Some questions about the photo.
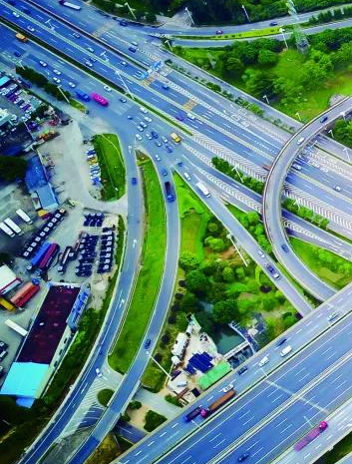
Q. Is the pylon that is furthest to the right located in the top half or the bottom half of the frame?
top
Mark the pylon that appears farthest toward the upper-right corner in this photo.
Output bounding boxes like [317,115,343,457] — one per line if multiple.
[281,0,311,56]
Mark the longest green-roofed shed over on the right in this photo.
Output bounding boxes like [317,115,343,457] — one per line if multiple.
[199,361,233,392]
